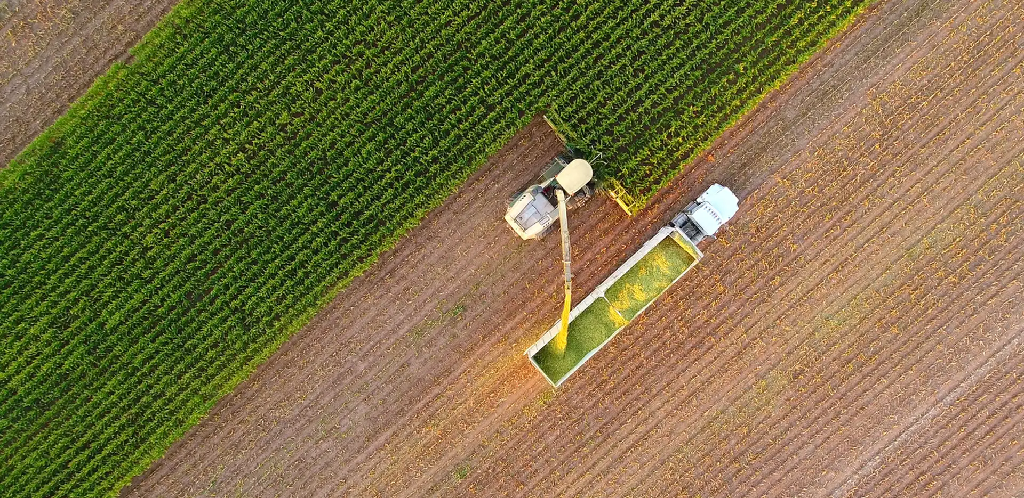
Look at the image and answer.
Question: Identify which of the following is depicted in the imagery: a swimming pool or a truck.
truck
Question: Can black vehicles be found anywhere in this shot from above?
No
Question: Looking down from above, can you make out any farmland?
Yes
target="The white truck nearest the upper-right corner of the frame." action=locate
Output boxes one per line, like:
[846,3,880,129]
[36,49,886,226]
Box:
[641,184,737,247]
